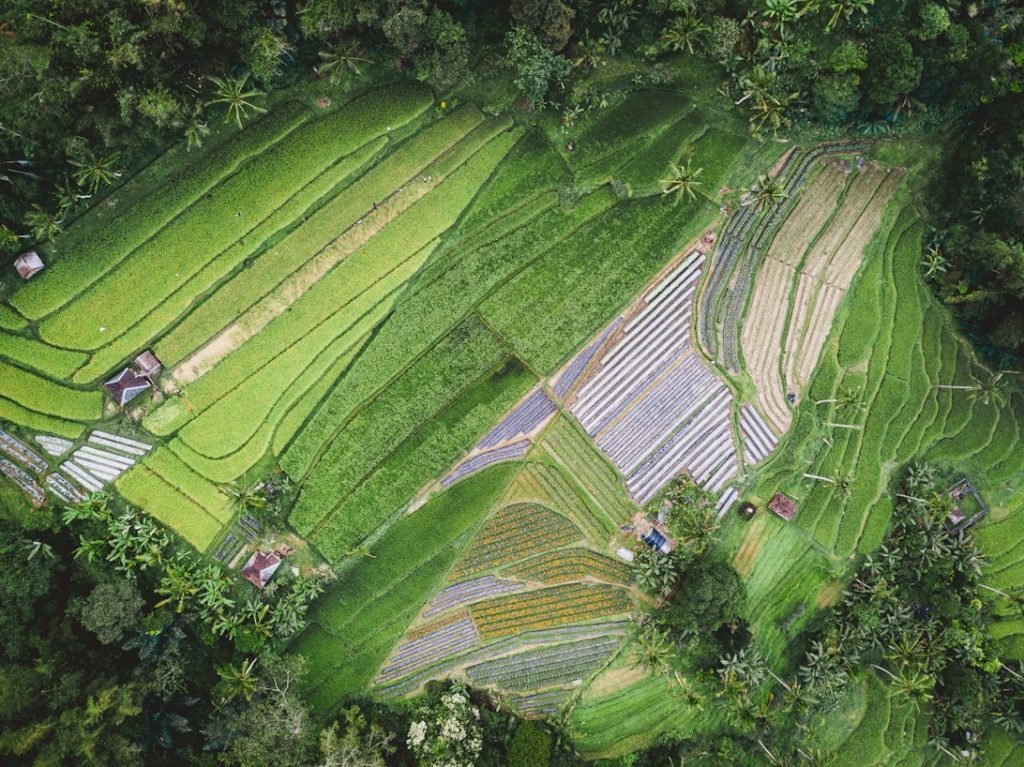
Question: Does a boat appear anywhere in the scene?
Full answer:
No, I can see no boat in this picture.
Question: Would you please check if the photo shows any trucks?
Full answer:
No, there is no truck in the image.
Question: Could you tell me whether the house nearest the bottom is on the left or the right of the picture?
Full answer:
The house nearest the bottom appears in the left half of the scene.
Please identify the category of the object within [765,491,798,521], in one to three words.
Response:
shed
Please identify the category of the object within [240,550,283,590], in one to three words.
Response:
house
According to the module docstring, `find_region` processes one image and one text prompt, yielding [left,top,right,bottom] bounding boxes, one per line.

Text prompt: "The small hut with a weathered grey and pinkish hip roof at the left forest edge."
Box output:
[12,250,49,280]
